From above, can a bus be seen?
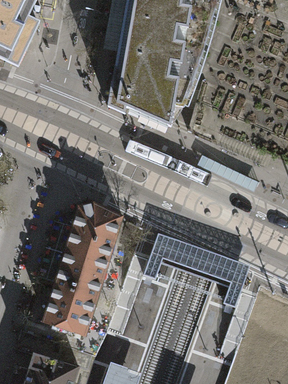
Yes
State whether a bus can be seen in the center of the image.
Yes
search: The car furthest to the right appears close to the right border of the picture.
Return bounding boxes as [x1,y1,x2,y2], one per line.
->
[268,212,288,228]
